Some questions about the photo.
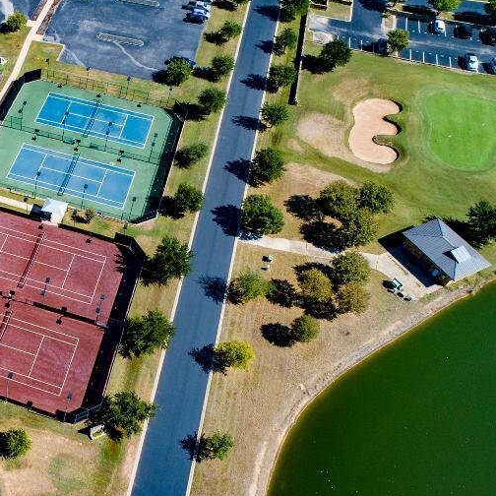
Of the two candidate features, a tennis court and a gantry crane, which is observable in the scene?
tennis court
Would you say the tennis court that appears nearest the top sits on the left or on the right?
left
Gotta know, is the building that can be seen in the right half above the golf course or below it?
below it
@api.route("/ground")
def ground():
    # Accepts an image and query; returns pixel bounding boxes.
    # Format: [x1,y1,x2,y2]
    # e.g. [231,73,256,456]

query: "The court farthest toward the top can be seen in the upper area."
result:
[1,81,184,167]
